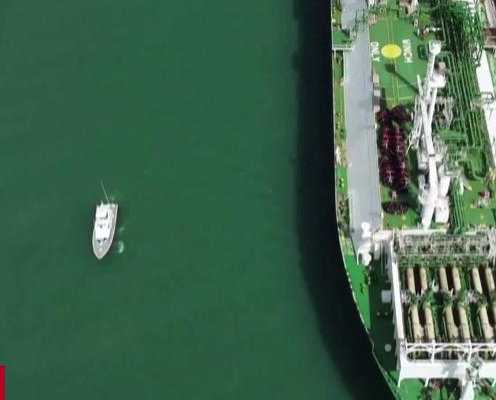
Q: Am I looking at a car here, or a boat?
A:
boat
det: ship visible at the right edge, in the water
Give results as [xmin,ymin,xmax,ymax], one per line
[331,0,496,400]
